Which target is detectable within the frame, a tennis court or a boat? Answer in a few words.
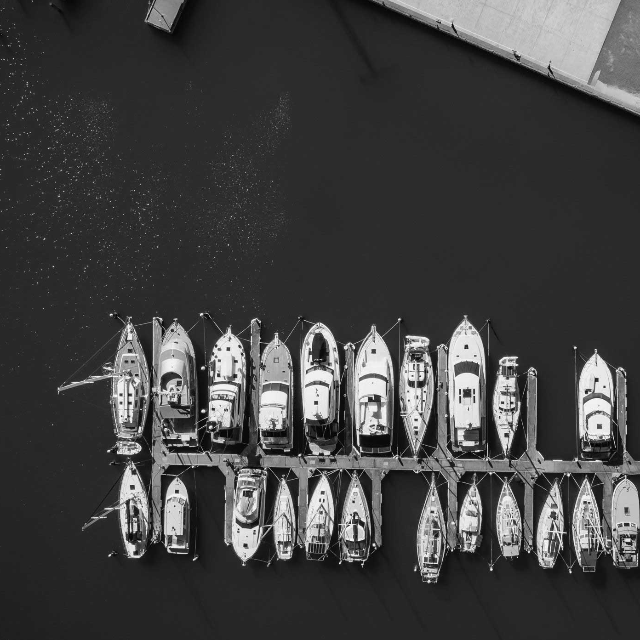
boat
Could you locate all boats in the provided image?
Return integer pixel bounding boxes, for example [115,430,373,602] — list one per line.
[56,317,154,457]
[533,474,572,569]
[572,473,612,573]
[492,365,530,459]
[81,459,152,558]
[493,473,524,564]
[400,340,438,459]
[337,469,372,563]
[417,468,448,584]
[578,346,618,458]
[301,470,336,561]
[403,336,430,348]
[259,470,300,560]
[231,467,267,568]
[115,442,141,455]
[198,314,250,449]
[355,321,394,456]
[612,473,640,568]
[457,475,485,554]
[164,470,193,555]
[257,321,299,452]
[500,356,519,365]
[447,312,487,459]
[301,320,346,456]
[157,317,207,447]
